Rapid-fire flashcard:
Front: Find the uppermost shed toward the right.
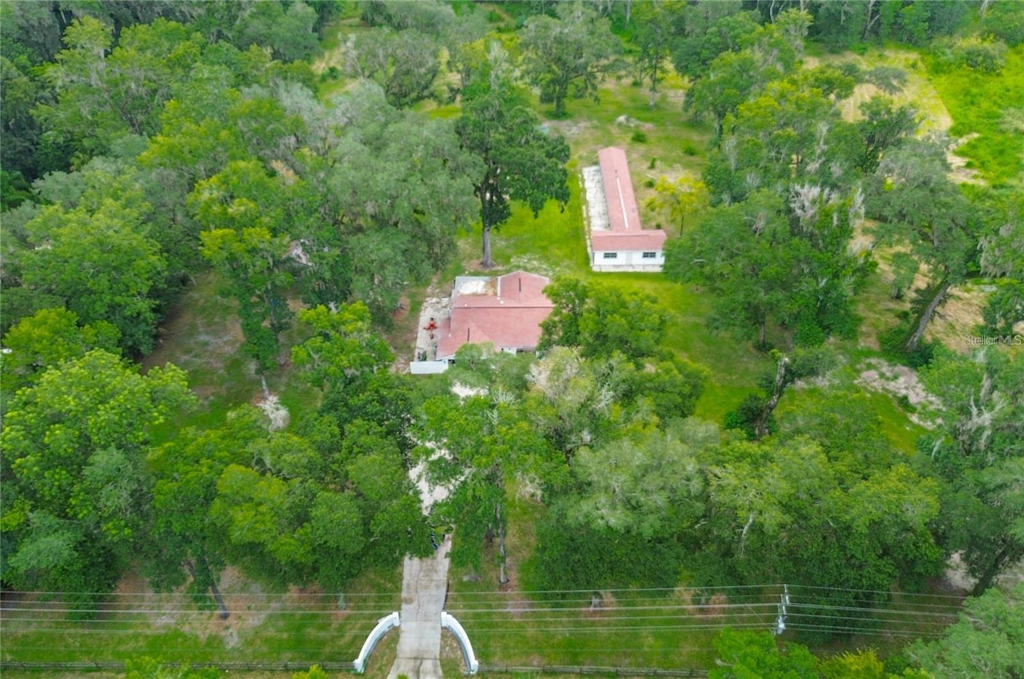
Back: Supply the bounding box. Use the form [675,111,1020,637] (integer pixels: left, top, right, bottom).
[590,147,669,265]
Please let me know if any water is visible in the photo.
No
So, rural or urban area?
rural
